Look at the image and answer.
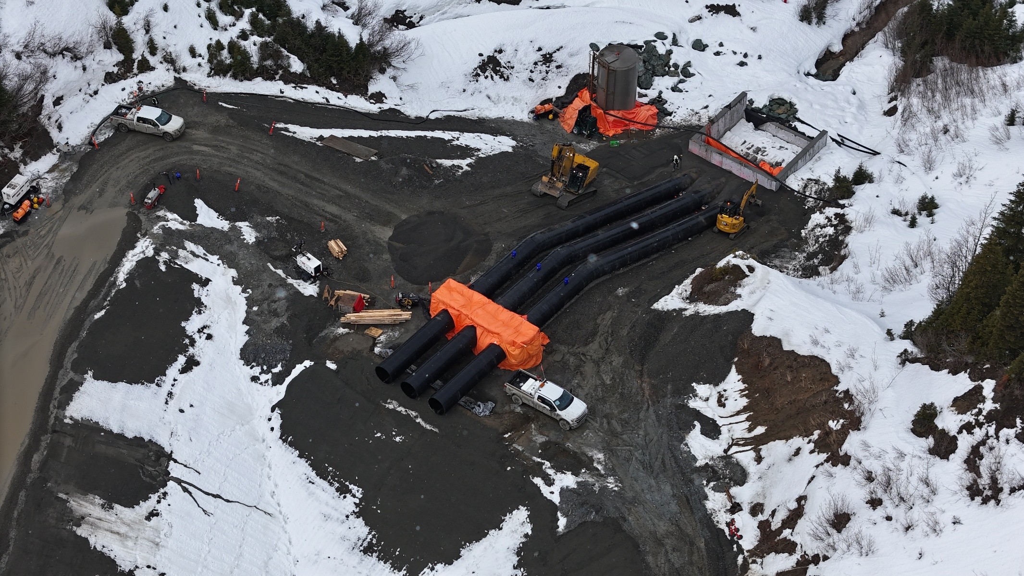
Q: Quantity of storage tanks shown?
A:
1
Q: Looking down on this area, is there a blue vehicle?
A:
No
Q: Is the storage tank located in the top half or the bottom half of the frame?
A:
top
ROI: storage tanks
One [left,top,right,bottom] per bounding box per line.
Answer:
[585,42,642,111]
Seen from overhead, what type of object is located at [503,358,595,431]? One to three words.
truck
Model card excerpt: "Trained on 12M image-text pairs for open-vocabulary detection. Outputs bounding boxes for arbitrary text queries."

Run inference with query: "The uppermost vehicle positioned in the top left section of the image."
[106,86,190,141]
